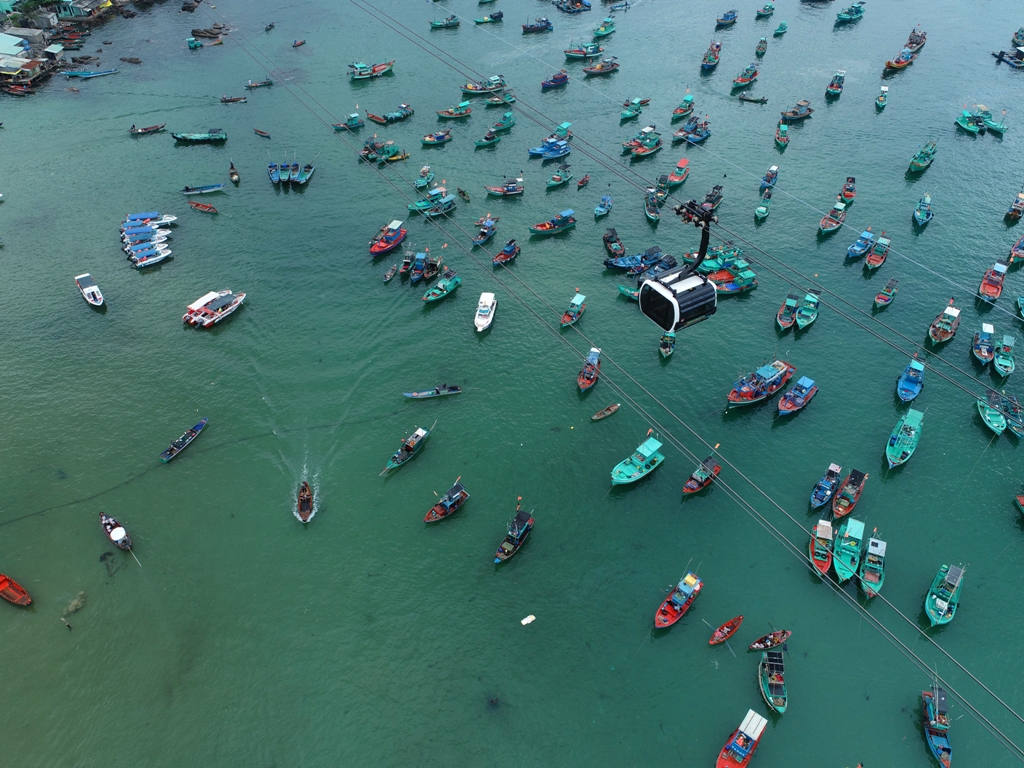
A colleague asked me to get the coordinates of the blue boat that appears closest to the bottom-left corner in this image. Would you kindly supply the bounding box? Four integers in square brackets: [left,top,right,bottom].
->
[148,419,208,462]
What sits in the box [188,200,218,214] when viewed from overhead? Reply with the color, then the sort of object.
red boat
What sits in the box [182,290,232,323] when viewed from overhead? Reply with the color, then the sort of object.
white boat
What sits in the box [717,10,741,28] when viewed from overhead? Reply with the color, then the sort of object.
blue boat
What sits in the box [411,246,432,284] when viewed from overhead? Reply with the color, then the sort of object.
blue boat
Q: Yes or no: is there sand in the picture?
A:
No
